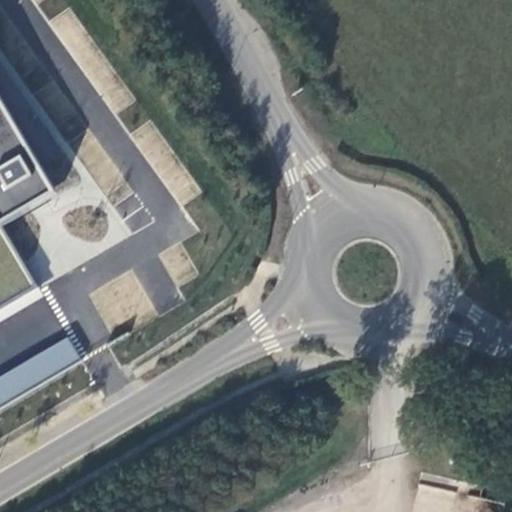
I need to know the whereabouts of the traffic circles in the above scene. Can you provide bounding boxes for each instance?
[247,156,496,358]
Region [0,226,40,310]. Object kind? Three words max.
building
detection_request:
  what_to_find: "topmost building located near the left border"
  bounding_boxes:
[0,98,56,227]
